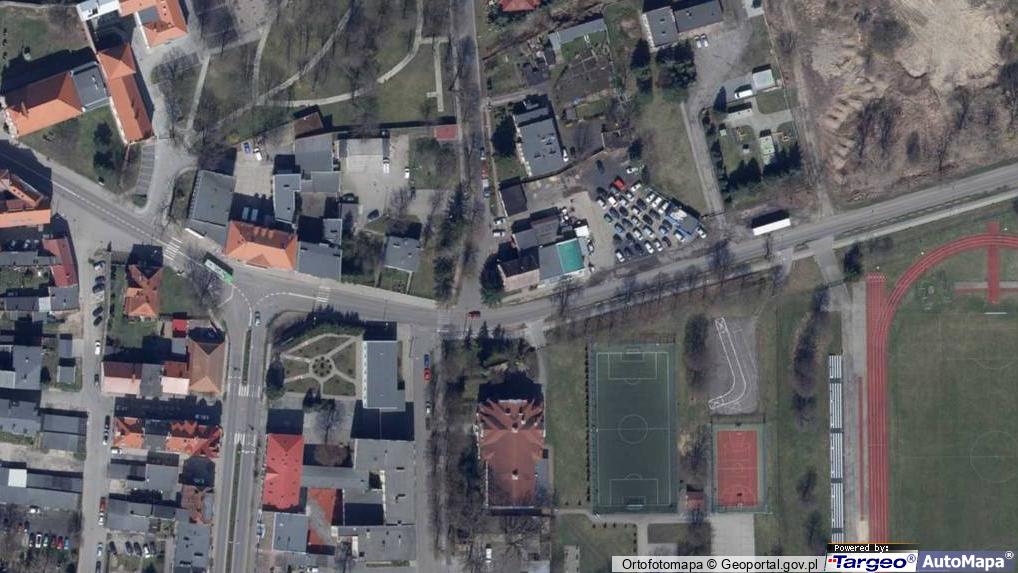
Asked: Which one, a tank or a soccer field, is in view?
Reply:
soccer field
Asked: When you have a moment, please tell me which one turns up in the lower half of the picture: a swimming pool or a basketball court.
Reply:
basketball court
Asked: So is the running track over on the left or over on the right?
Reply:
right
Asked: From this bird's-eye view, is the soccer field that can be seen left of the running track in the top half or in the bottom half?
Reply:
bottom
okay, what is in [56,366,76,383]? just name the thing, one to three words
house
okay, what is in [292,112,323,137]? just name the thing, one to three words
shed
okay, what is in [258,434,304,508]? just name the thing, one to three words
building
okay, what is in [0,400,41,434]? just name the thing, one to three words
house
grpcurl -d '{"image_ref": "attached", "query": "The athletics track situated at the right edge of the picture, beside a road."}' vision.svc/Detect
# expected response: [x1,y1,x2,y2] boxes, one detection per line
[858,222,1018,573]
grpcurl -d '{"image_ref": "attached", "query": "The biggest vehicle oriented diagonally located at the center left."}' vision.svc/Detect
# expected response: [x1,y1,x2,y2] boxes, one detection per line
[203,260,234,285]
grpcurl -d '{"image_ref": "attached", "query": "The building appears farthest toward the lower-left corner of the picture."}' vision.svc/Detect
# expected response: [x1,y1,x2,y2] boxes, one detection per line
[0,466,83,510]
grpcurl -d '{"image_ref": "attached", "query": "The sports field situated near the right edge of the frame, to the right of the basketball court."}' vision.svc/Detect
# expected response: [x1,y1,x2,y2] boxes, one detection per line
[893,312,1018,573]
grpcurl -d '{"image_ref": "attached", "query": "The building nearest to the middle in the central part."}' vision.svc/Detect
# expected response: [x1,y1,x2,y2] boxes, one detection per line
[499,252,541,290]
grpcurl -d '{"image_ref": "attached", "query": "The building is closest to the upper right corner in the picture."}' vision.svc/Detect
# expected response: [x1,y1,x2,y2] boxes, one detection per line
[751,70,775,90]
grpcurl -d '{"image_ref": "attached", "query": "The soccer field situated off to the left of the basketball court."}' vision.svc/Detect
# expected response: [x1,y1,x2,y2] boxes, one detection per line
[590,344,678,514]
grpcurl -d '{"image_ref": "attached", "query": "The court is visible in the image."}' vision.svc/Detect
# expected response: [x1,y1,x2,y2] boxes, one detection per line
[713,424,766,513]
